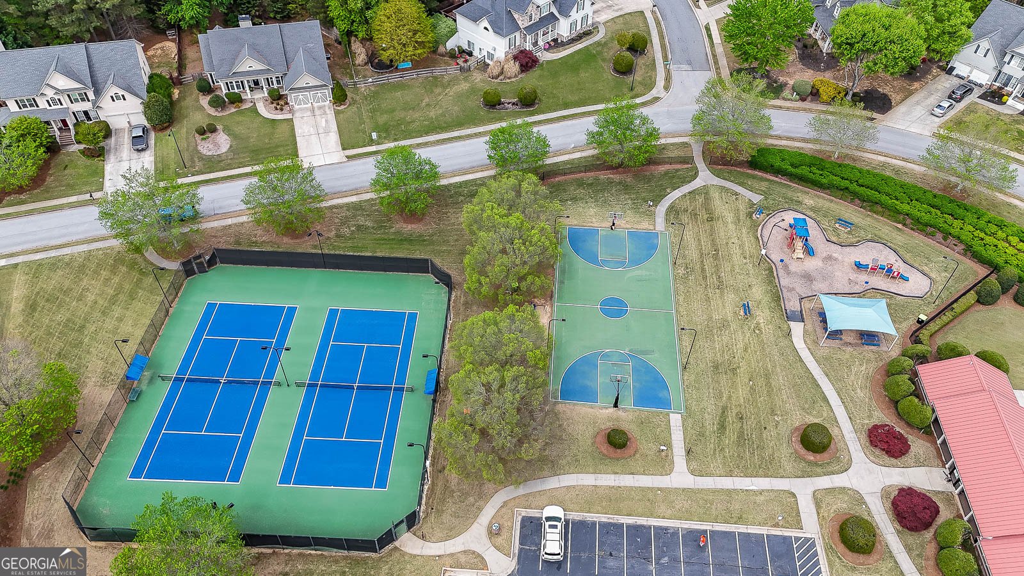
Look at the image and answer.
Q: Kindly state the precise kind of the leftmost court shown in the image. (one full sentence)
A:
Looking closely, the leftmost court is a tennis court.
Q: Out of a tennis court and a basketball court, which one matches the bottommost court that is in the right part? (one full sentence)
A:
Looking closely, the bottommost court that is in the right part is a basketball court.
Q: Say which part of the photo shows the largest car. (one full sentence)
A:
The largest car appears toward the bottom of the photo.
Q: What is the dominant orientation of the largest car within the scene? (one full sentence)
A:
The largest car is oriented from top to bottom.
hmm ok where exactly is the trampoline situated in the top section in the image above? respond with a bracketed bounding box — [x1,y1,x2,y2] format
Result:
[370,57,395,72]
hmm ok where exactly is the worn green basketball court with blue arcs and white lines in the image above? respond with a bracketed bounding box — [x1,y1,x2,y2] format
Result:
[548,225,688,414]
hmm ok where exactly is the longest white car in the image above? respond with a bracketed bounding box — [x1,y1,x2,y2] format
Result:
[541,509,566,562]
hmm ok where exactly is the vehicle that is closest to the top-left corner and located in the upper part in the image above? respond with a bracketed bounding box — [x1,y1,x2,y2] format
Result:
[130,127,148,152]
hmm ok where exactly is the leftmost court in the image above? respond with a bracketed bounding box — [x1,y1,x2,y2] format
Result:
[77,266,324,533]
